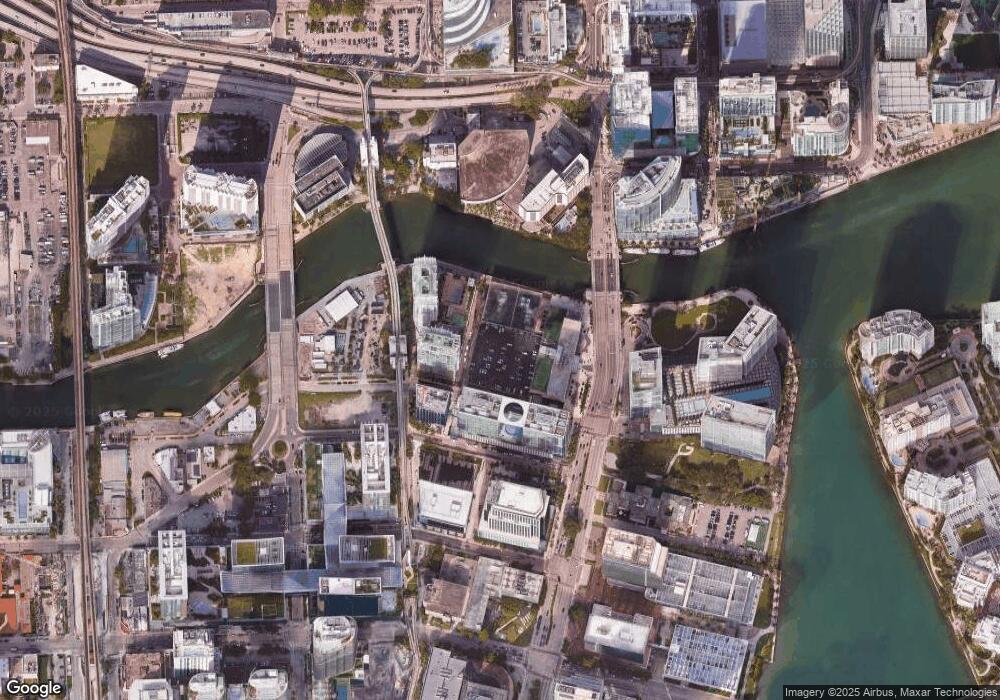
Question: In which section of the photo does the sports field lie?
top left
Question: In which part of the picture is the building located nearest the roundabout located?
left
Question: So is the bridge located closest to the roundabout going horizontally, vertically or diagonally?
vertically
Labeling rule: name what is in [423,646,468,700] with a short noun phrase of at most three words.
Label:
building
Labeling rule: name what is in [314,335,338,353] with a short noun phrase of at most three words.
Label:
shed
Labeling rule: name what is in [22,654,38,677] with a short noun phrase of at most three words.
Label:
house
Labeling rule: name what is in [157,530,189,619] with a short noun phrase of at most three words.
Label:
building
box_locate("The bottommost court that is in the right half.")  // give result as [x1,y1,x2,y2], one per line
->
[744,518,771,552]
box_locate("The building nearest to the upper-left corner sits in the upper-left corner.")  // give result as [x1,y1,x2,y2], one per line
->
[34,54,60,71]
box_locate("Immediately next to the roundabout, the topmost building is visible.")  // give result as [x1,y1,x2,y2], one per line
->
[229,405,256,433]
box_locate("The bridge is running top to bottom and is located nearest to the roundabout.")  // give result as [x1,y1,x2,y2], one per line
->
[260,244,295,352]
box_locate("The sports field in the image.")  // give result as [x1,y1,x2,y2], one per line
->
[84,115,157,190]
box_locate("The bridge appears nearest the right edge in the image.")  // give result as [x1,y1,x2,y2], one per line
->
[587,248,624,307]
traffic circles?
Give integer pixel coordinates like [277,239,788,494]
[263,430,297,464]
